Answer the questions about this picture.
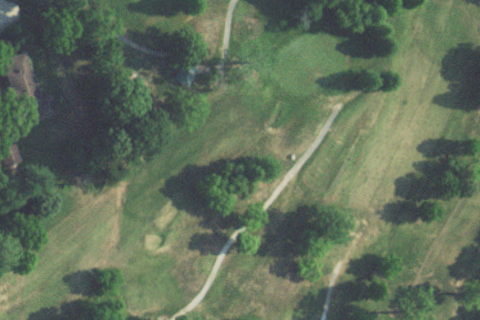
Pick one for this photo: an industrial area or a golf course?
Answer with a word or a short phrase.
golf course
